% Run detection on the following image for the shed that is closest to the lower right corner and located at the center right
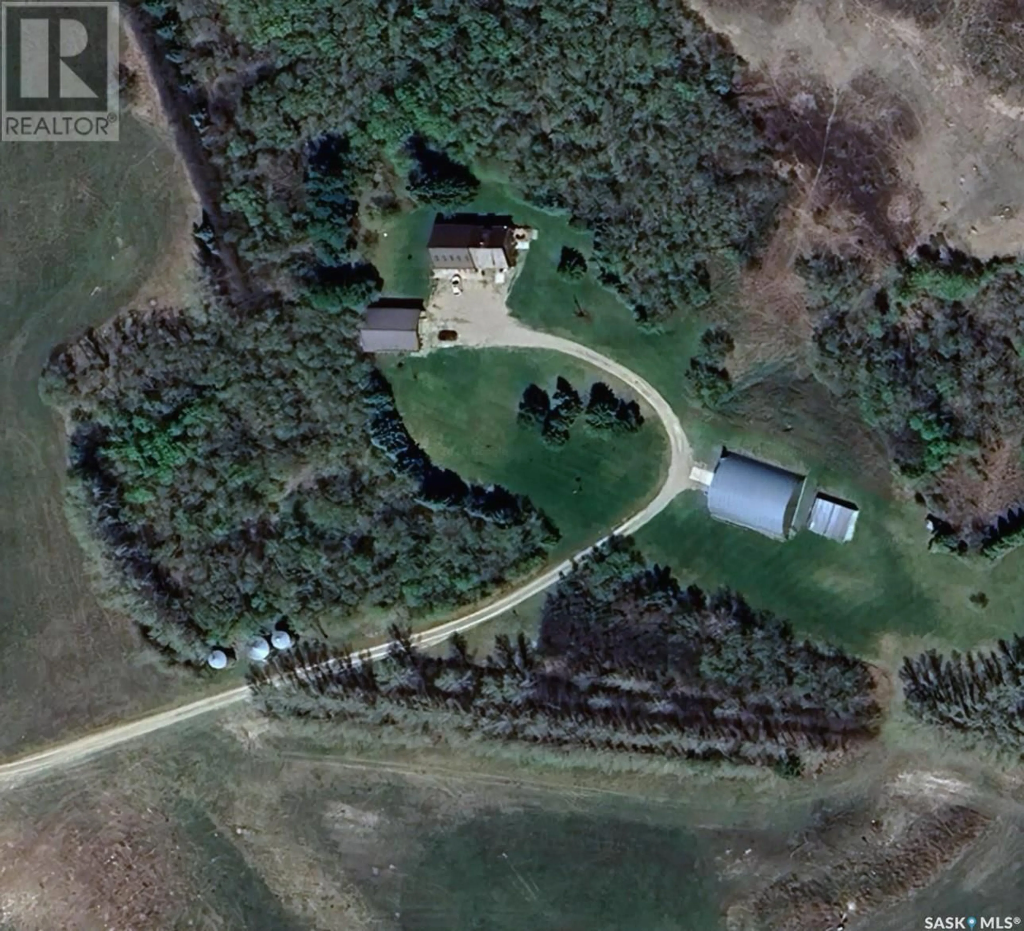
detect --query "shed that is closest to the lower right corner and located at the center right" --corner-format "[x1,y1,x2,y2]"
[809,498,857,541]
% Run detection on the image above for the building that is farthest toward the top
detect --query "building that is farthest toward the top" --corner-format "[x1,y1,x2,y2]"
[425,225,512,269]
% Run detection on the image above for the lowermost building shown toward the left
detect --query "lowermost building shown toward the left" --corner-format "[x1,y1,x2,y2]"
[361,308,423,351]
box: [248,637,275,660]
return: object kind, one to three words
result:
silo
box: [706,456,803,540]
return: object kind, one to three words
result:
barn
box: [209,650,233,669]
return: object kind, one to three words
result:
silo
